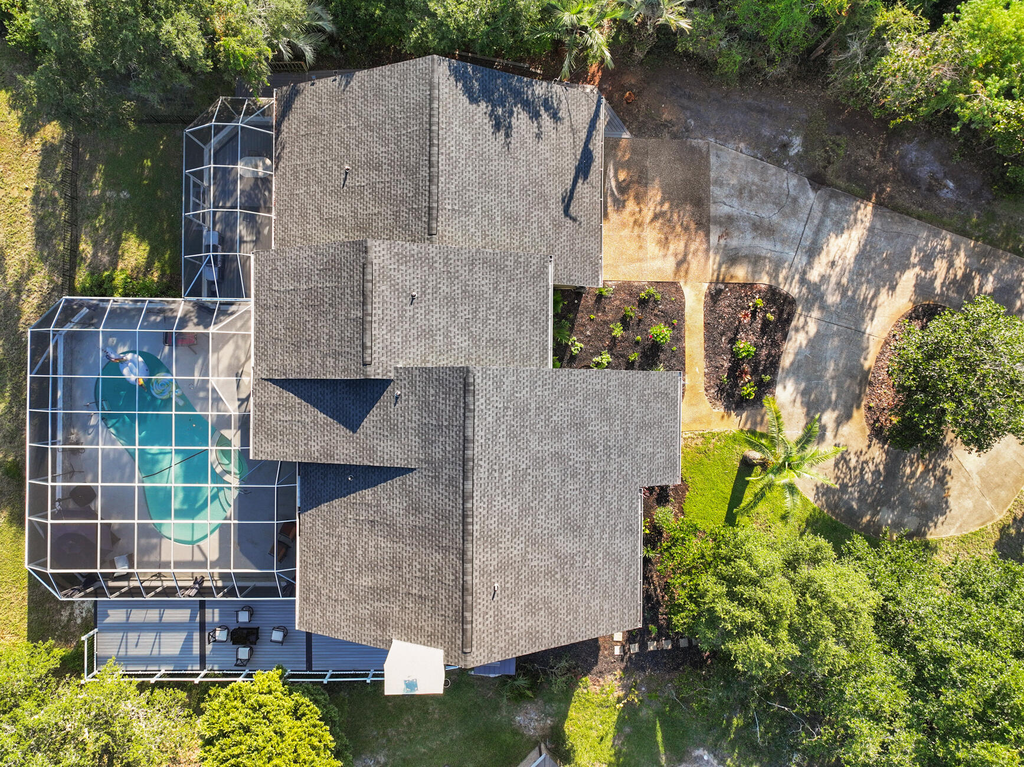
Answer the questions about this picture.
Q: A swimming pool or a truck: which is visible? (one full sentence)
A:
The one in the frame is a swimming pool.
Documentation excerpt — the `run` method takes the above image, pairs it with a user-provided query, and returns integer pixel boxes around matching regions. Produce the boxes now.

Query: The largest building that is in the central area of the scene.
[249,54,684,696]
